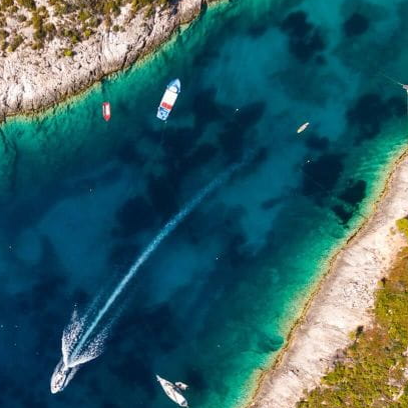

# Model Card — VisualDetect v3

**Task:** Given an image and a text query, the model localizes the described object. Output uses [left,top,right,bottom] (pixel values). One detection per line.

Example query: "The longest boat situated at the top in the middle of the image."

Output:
[157,78,180,122]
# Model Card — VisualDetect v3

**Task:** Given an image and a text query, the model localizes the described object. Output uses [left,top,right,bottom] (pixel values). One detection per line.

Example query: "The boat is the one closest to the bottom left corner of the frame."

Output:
[53,365,70,393]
